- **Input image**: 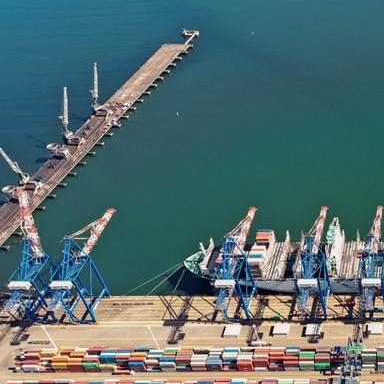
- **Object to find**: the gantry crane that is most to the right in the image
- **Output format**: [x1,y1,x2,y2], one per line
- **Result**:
[356,203,384,322]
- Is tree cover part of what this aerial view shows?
No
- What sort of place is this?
port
